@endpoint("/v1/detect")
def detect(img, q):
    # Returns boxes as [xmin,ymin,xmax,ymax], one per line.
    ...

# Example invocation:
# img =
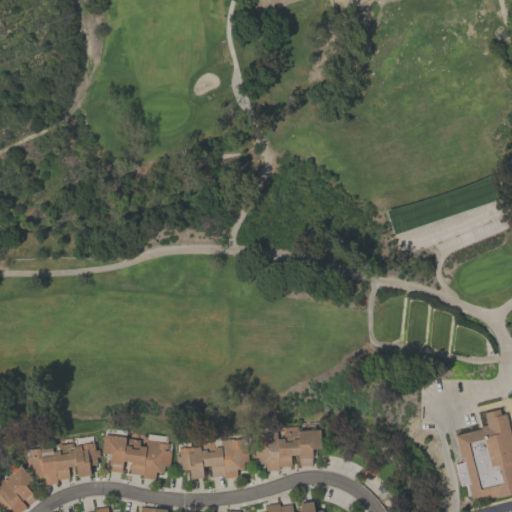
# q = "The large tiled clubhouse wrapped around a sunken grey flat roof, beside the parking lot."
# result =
[458,409,512,498]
